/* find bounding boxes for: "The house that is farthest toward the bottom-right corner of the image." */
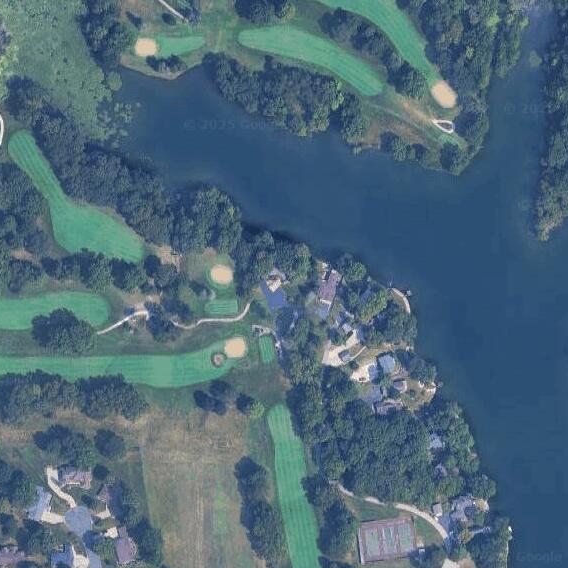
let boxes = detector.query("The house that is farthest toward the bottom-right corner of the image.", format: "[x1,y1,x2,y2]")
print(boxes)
[450,497,476,523]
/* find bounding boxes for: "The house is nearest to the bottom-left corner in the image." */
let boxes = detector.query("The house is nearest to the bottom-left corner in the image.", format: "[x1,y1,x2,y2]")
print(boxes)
[0,546,25,564]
